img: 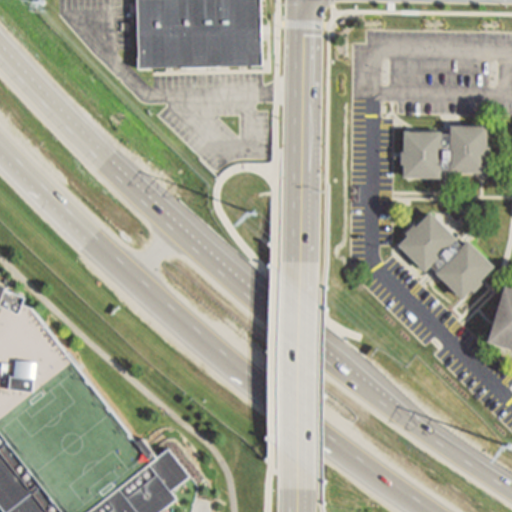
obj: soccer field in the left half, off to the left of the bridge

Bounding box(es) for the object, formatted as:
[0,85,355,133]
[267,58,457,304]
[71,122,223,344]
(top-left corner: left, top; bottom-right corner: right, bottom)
[0,364,148,512]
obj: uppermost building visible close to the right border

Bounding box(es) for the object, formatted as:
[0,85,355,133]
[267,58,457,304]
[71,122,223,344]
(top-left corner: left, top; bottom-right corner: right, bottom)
[402,126,487,180]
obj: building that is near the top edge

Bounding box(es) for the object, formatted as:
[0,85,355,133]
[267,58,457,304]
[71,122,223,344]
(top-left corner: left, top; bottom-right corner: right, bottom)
[138,0,262,72]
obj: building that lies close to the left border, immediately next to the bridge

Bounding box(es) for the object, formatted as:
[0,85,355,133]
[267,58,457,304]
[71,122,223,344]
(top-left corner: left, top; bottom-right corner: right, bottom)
[0,284,189,512]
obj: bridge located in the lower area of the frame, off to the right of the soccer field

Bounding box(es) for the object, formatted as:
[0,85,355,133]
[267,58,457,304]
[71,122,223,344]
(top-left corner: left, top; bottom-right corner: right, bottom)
[265,150,328,512]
